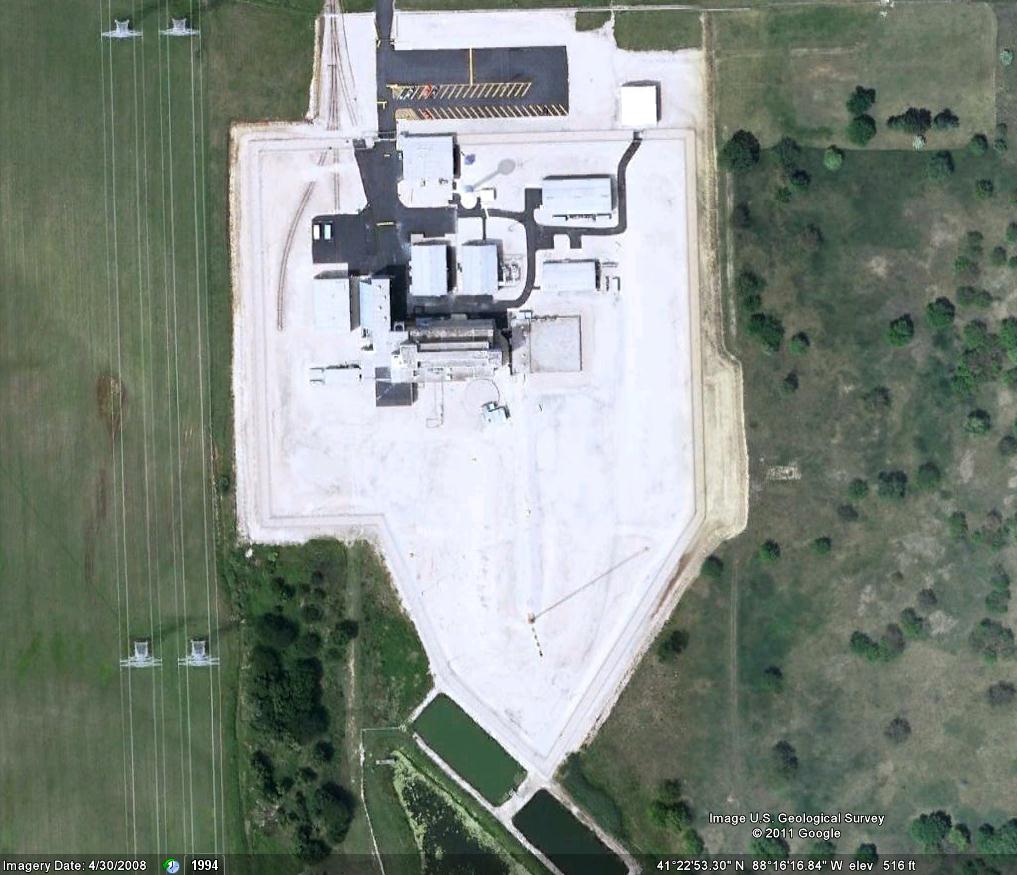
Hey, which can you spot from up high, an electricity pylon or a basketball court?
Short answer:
electricity pylon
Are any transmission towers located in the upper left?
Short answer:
Yes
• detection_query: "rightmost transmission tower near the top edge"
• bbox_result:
[159,10,201,38]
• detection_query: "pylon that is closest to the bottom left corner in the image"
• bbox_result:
[121,634,162,667]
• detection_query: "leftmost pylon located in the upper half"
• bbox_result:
[100,11,142,39]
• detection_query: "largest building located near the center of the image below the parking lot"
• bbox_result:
[372,312,502,406]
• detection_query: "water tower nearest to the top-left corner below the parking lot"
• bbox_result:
[461,183,479,208]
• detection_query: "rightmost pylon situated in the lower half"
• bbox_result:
[178,633,219,666]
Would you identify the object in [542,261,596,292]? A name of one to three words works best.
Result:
building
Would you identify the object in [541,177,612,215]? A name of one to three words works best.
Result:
building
